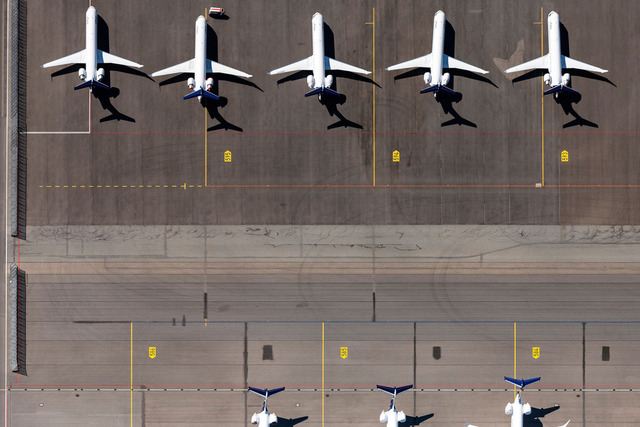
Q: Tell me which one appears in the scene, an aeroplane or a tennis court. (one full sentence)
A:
Of the two, only an aeroplane appears.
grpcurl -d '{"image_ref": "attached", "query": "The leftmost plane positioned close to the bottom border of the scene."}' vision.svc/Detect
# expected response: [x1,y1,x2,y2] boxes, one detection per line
[249,386,284,427]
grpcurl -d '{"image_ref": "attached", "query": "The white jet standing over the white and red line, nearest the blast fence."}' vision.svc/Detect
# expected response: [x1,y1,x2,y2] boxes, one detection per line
[41,6,142,93]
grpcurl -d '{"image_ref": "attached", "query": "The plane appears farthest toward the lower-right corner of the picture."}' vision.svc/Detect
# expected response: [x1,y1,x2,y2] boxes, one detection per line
[504,376,539,427]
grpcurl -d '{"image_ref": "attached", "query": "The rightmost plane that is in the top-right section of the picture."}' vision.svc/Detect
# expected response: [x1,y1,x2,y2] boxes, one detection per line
[506,10,607,96]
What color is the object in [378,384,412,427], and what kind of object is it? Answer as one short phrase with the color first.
white airplane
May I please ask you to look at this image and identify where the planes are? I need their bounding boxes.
[506,10,607,96]
[269,12,370,98]
[249,386,284,427]
[149,15,251,101]
[378,384,412,427]
[41,6,142,93]
[386,10,488,96]
[504,376,539,427]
